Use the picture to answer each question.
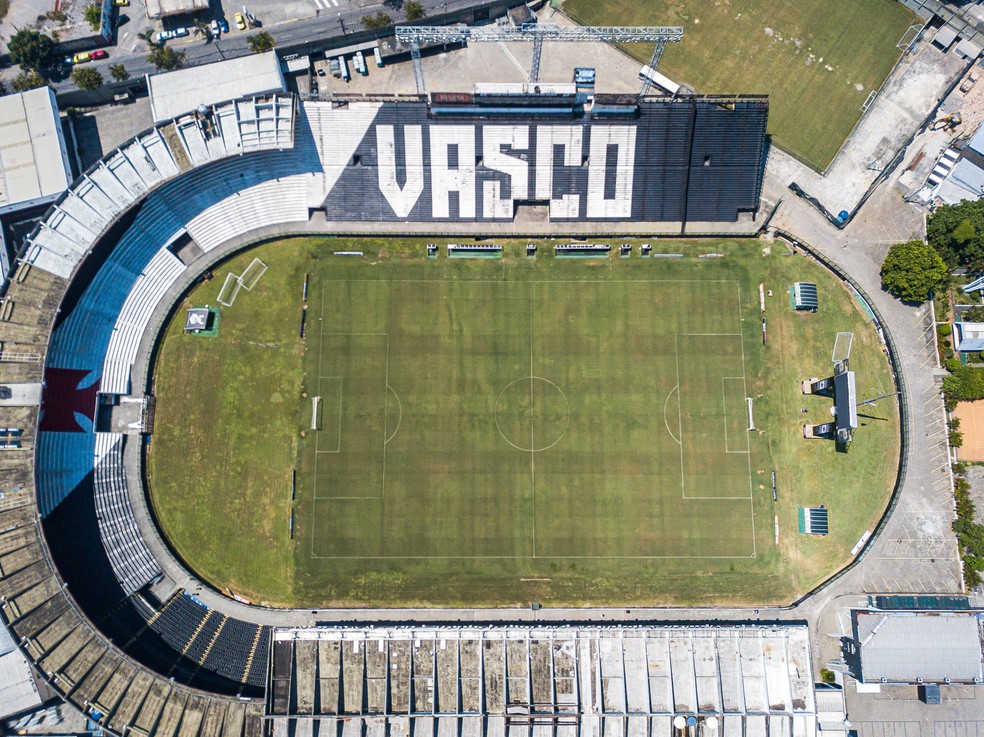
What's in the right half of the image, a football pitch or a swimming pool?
football pitch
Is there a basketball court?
No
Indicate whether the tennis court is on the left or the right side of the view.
right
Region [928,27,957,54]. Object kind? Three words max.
shed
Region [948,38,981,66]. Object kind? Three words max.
shed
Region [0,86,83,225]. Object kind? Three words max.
building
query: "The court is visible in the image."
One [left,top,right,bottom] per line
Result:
[954,400,984,461]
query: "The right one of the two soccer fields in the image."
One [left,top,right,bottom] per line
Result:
[561,0,927,172]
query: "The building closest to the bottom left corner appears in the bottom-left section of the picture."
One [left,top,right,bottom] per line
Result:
[0,649,60,719]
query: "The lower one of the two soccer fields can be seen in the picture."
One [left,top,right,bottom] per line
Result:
[149,236,899,608]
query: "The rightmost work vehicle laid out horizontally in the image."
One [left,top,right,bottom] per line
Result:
[929,111,966,127]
